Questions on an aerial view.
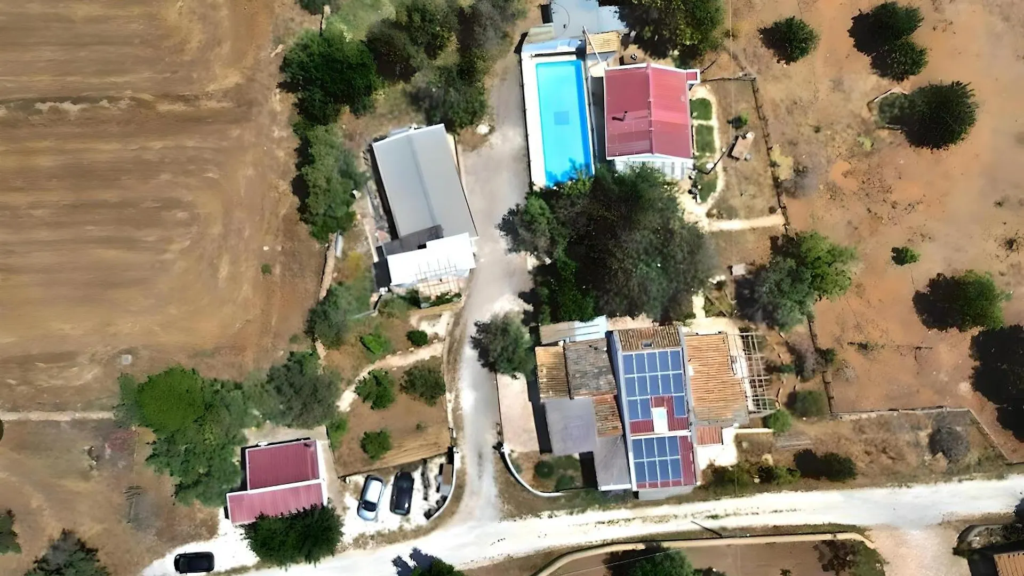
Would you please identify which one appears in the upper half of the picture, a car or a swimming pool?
swimming pool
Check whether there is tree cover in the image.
Yes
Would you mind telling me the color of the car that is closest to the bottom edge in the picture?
black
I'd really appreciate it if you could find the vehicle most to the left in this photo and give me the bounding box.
[171,553,214,576]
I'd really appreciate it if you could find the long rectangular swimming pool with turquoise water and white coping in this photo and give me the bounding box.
[522,52,596,189]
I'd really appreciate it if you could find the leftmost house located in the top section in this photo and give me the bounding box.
[372,124,480,286]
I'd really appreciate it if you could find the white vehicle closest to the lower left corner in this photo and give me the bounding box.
[356,476,383,523]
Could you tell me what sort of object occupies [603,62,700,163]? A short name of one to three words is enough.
house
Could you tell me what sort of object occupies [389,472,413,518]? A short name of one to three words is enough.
car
